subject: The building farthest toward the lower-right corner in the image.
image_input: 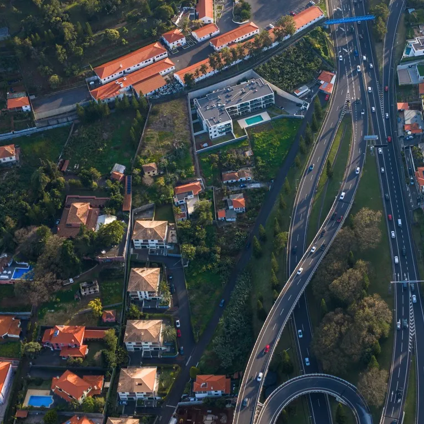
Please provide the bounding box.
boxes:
[194,375,231,399]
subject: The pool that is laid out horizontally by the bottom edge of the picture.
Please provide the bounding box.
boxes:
[25,393,54,408]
